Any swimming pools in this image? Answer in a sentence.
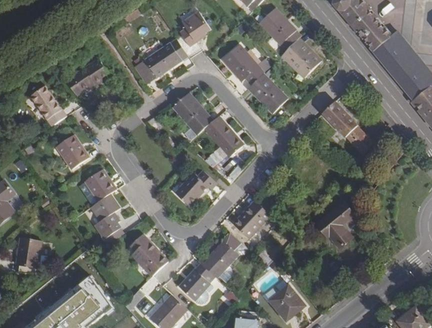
Yes, I can see a swimming pool in this picture.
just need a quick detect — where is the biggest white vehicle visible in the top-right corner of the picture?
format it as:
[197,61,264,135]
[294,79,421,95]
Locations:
[379,2,394,16]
